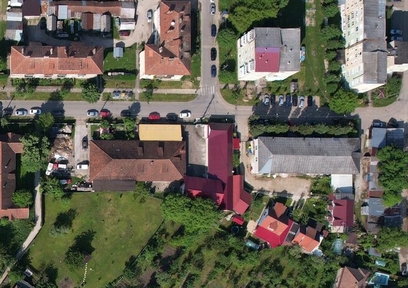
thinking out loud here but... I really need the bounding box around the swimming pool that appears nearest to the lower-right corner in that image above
[371,273,391,286]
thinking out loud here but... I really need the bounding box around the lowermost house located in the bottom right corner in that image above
[332,265,371,288]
